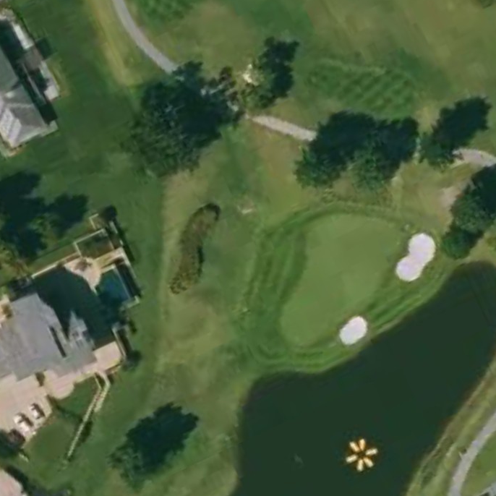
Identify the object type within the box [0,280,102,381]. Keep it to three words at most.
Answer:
house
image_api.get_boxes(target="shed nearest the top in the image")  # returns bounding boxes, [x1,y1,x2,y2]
[19,40,44,67]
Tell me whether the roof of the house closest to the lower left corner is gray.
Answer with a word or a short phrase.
Yes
